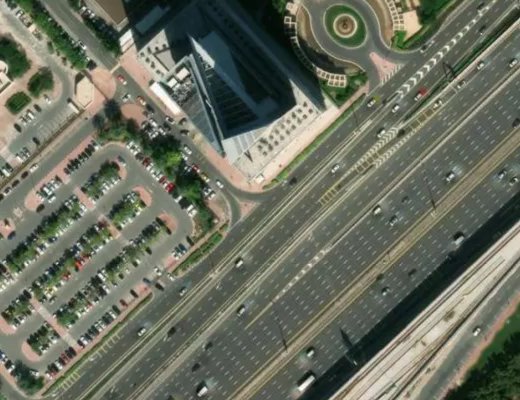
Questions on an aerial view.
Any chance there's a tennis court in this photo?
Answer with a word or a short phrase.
No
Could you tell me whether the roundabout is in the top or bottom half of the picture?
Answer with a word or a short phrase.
top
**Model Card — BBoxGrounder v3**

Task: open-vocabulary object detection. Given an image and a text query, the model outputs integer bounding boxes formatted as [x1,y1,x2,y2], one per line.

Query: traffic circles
[301,0,414,110]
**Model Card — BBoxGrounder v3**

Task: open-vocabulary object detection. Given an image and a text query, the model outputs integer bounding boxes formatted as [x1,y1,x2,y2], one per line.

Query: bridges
[328,222,520,400]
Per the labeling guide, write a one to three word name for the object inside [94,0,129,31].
building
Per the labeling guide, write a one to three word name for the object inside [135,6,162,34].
building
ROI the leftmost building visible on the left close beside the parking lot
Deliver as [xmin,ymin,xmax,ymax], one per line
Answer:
[76,77,93,108]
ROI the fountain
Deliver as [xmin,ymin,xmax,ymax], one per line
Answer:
[334,14,358,38]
